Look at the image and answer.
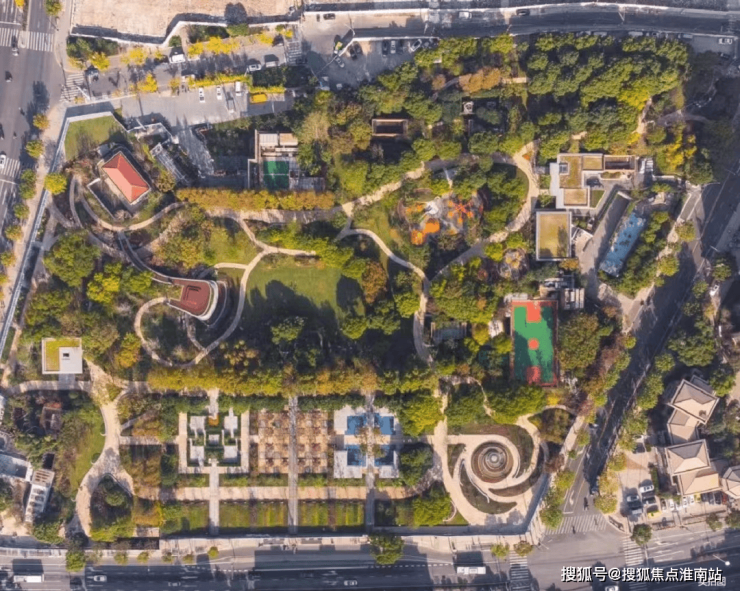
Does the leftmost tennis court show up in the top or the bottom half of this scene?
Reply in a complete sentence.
You can find the leftmost tennis court in the top half.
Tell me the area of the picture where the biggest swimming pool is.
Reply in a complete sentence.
You can find the biggest swimming pool in the right area of the picture.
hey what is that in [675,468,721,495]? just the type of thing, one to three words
house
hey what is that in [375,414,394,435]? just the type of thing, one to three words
swimming pool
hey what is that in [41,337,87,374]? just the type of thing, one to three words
house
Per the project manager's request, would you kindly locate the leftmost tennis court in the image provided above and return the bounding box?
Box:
[262,160,289,191]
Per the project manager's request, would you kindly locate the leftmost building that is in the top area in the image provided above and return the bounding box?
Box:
[98,152,154,213]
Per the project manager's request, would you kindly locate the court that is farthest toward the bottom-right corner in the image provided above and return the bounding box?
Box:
[512,301,558,387]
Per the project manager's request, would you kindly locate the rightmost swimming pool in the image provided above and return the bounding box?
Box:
[598,210,648,277]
